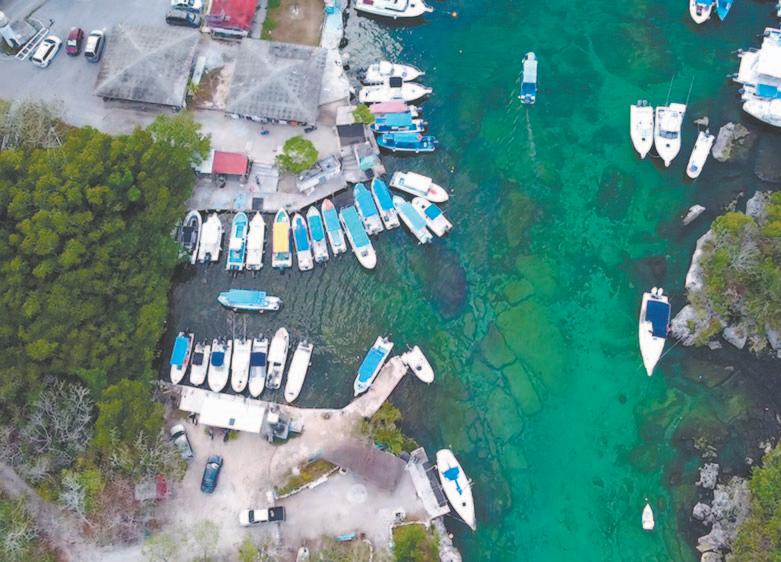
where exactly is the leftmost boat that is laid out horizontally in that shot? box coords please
[217,288,287,313]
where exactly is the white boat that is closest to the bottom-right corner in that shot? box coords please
[641,502,655,531]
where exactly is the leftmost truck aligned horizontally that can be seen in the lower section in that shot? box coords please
[239,506,286,528]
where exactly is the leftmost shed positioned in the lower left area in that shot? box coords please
[135,474,171,501]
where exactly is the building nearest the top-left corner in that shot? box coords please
[94,24,202,114]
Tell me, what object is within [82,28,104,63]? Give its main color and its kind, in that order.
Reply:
white car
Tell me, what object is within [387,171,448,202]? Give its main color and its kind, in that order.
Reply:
white boat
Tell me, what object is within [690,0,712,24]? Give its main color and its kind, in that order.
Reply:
white boat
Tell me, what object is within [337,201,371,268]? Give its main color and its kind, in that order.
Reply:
blue boat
